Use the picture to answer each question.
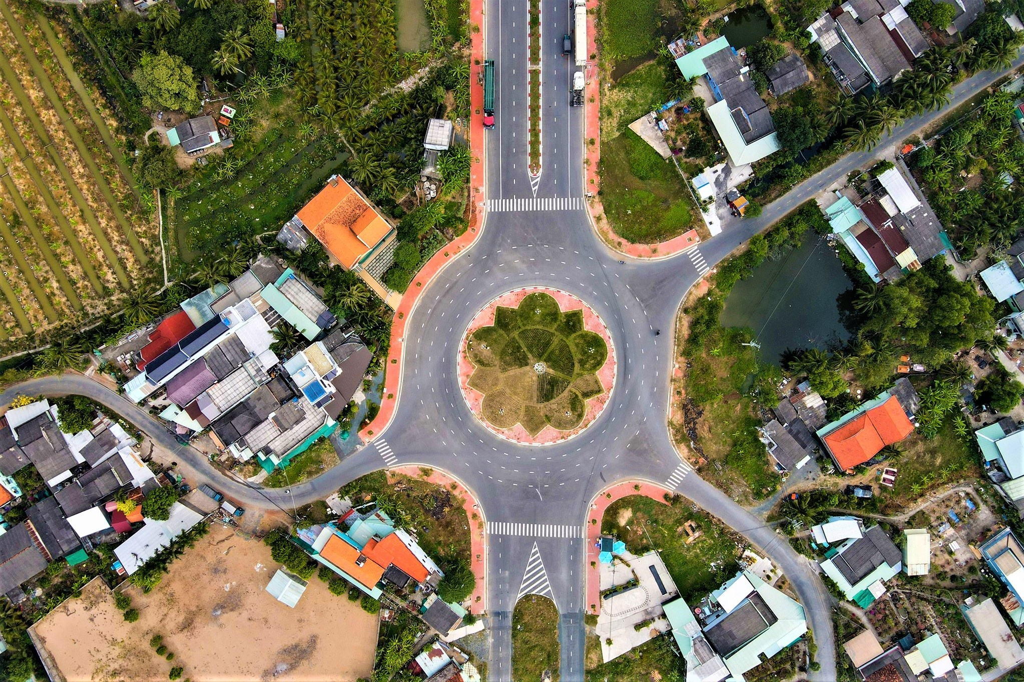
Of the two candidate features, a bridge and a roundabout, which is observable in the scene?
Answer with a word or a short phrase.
roundabout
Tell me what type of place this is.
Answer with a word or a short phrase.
residential area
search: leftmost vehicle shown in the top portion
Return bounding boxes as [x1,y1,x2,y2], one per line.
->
[482,58,496,130]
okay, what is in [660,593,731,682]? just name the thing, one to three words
house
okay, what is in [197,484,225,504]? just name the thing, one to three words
vehicle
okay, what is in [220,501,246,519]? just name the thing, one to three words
vehicle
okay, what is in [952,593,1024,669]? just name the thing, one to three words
building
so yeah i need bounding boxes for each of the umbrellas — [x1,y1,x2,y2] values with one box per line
[613,541,625,554]
[599,552,612,564]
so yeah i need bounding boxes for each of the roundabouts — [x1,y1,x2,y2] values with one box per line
[459,287,616,444]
